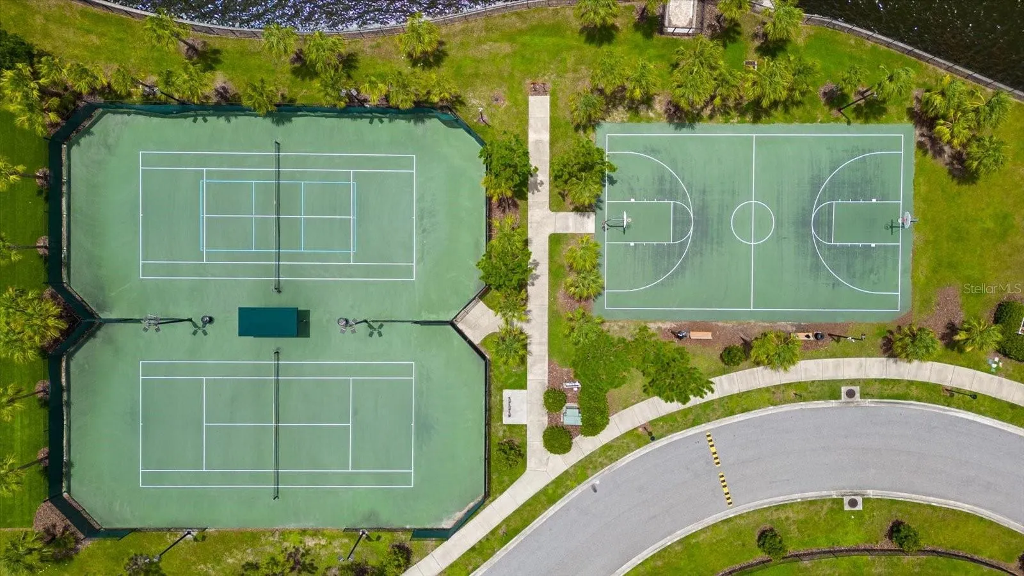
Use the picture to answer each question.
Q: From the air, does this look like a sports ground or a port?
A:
sports ground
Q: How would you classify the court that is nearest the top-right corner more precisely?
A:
basketball court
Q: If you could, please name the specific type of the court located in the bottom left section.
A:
tennis court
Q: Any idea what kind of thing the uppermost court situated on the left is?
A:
tennis court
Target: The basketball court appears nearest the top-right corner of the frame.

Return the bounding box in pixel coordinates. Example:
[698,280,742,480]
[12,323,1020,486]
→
[593,123,915,322]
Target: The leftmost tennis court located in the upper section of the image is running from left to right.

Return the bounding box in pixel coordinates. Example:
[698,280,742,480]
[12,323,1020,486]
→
[66,110,487,320]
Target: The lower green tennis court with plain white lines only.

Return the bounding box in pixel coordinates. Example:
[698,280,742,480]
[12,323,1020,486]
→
[66,320,486,528]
